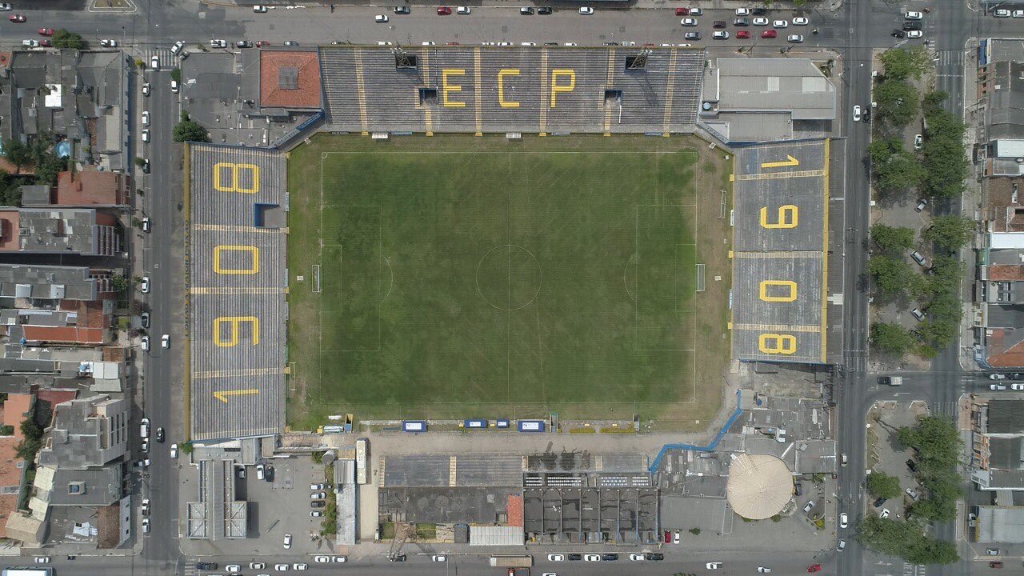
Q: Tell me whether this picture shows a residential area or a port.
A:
residential area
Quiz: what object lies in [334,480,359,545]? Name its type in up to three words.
shed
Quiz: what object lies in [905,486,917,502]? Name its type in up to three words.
vehicle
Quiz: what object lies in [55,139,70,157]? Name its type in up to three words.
swimming pool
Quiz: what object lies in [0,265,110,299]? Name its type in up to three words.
house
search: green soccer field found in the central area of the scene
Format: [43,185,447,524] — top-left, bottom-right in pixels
[289,134,735,430]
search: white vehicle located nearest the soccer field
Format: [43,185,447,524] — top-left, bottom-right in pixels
[358,438,370,484]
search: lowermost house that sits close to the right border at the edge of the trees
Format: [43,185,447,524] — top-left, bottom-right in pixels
[971,503,1024,542]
